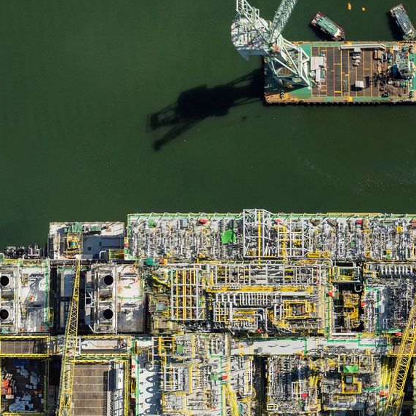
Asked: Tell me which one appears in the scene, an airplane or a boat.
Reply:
boat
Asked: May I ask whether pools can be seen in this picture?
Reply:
No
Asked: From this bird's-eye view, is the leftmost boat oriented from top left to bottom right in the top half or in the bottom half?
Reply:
top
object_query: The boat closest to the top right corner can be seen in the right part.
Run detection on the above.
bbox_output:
[386,2,414,40]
